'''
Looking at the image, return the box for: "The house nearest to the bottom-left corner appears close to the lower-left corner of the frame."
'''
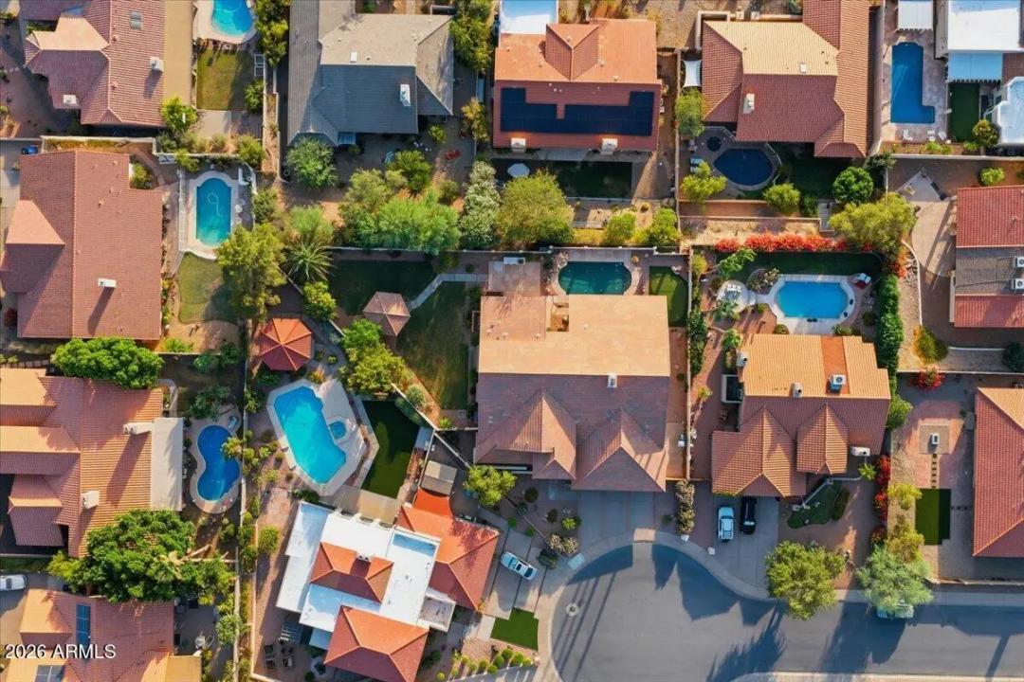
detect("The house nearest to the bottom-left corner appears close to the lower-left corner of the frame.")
[3,587,211,682]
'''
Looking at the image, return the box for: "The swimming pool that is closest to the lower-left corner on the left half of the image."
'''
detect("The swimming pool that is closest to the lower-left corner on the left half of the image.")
[193,421,243,505]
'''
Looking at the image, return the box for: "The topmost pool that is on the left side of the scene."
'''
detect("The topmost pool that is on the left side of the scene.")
[209,0,255,38]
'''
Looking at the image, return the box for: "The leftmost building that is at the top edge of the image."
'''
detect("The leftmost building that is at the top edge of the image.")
[19,0,200,127]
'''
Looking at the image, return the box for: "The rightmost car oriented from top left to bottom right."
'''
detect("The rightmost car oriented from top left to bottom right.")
[499,550,539,582]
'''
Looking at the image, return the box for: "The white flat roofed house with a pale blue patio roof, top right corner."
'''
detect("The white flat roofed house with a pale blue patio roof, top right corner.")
[920,0,1024,150]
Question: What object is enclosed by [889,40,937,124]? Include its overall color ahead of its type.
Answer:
blue swimming pool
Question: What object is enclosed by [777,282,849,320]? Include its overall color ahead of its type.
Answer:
blue swimming pool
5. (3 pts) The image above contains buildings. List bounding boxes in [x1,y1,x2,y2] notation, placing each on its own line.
[0,150,165,339]
[0,369,193,560]
[920,0,1024,150]
[969,388,1024,556]
[703,0,869,157]
[421,459,457,496]
[474,256,670,492]
[937,185,1024,327]
[277,498,500,682]
[3,587,211,682]
[19,0,200,127]
[492,0,661,153]
[711,334,891,497]
[288,0,454,147]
